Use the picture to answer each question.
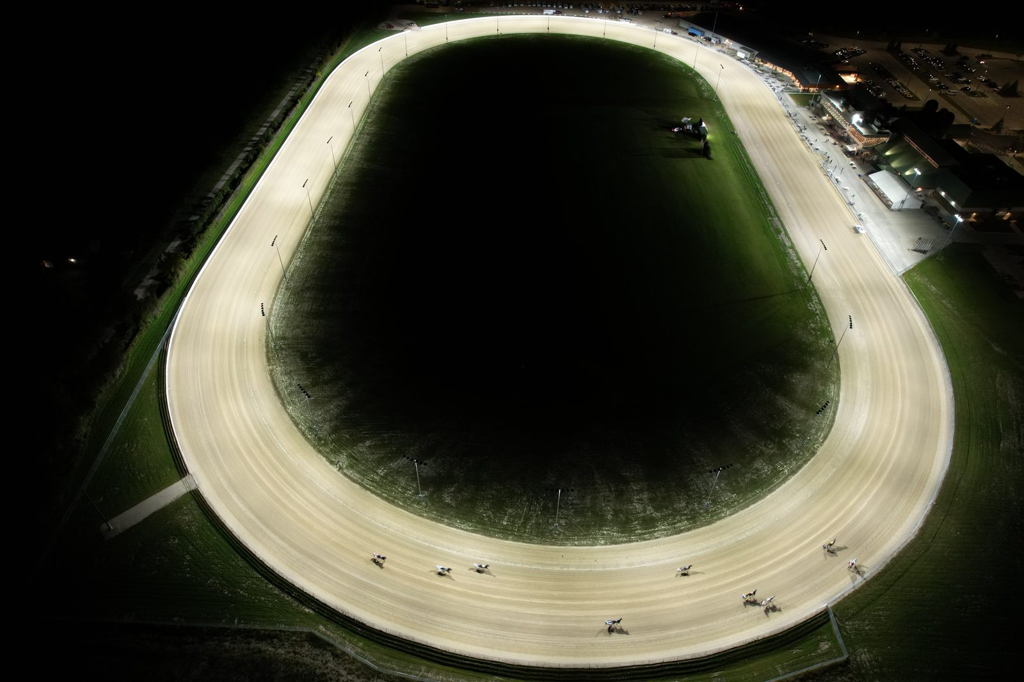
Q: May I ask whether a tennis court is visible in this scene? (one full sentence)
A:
No, there is no tennis court in the image.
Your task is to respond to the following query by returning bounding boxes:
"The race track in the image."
[166,15,955,669]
